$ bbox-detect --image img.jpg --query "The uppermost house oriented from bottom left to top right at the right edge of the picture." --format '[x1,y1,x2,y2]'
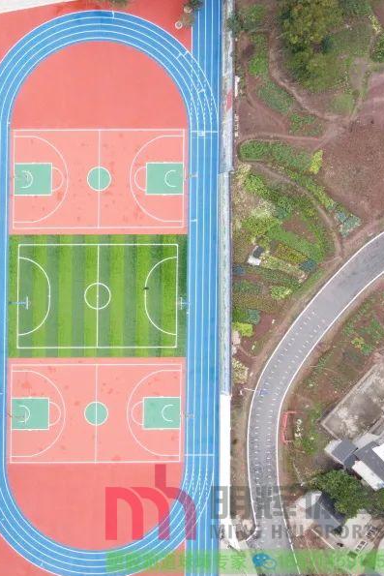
[319,350,384,441]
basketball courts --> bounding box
[8,128,188,235]
[6,357,186,464]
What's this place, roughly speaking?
sports ground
